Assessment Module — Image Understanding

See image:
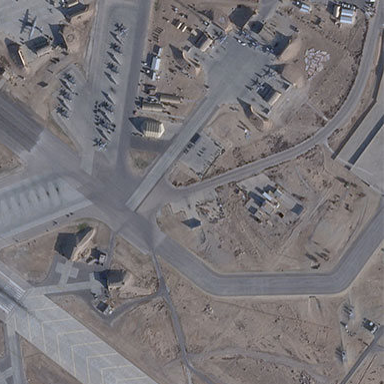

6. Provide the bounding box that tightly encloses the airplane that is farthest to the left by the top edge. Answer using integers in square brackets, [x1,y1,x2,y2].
[27,16,44,38]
